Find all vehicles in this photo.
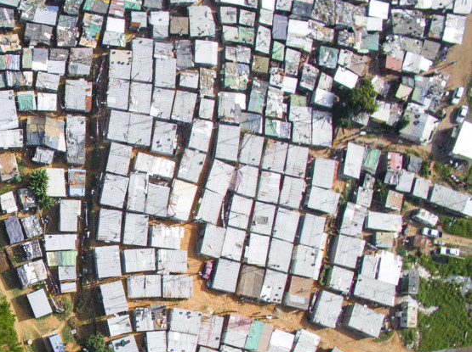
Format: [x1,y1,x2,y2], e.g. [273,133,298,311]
[201,261,213,280]
[437,247,460,256]
[202,277,212,290]
[411,209,442,227]
[453,103,469,125]
[447,84,465,107]
[419,227,442,238]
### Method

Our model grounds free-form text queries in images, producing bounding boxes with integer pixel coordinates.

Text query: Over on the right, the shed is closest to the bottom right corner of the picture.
[400,304,418,327]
